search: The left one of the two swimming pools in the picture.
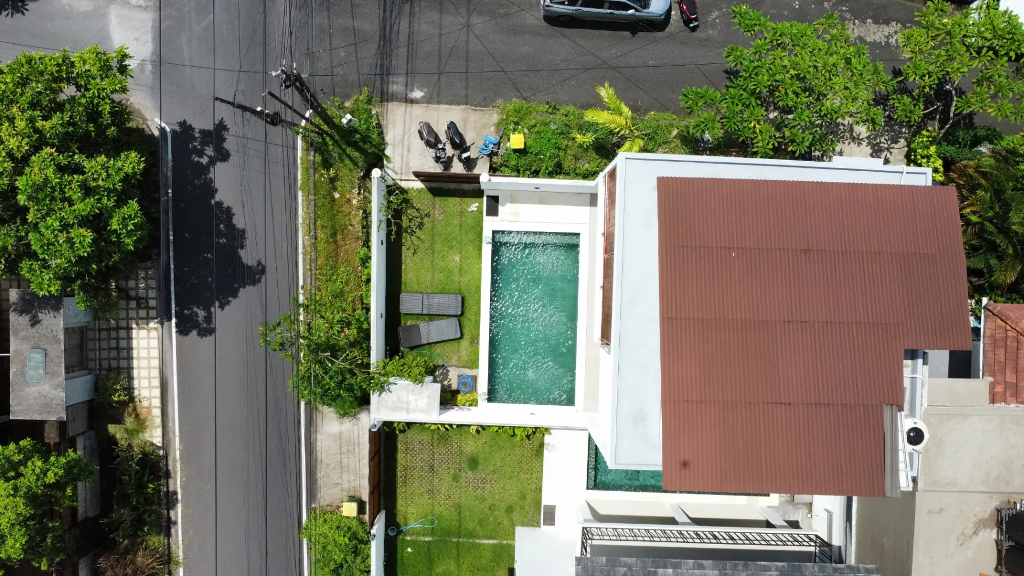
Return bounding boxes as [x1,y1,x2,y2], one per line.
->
[487,231,580,405]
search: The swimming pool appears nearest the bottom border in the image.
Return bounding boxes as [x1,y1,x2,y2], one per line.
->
[587,437,662,491]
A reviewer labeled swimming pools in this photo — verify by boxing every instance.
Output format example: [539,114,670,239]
[587,437,662,491]
[487,231,580,405]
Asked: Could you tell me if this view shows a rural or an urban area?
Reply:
urban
